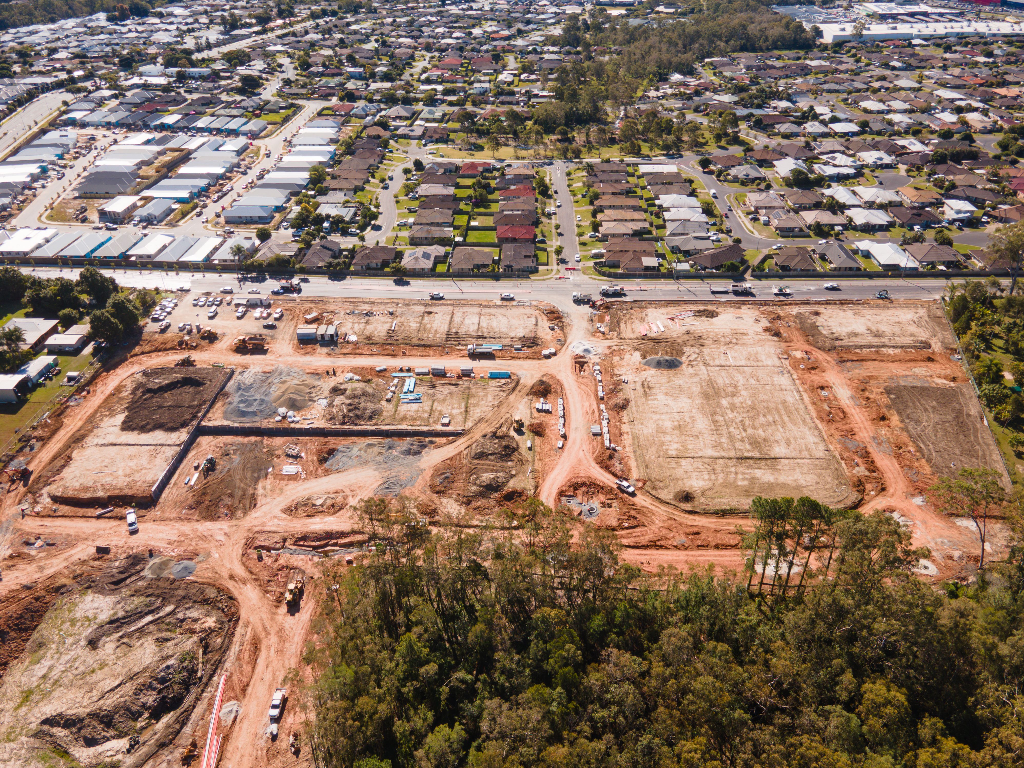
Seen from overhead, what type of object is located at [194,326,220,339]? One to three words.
vehicle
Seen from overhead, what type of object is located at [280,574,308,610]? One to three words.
work vehicle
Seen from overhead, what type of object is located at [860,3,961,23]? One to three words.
building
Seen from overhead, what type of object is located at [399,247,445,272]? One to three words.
house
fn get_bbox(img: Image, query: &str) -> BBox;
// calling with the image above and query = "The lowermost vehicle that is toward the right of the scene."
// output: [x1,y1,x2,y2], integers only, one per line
[613,477,637,493]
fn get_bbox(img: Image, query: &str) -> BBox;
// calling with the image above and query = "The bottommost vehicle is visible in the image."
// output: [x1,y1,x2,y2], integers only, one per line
[266,687,289,719]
